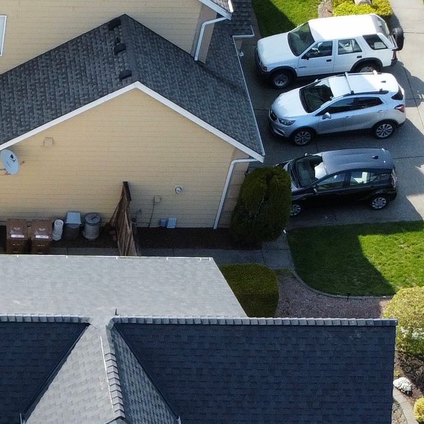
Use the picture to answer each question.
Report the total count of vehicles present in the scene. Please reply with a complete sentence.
In total, there are 3 vehicles in the scene.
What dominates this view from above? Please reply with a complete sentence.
The bulk of the photo consists of buildings.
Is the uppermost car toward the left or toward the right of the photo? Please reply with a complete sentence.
You can find the uppermost car on the right side of the picture.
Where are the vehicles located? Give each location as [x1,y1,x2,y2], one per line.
[267,65,415,147]
[266,143,407,218]
[243,3,403,89]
